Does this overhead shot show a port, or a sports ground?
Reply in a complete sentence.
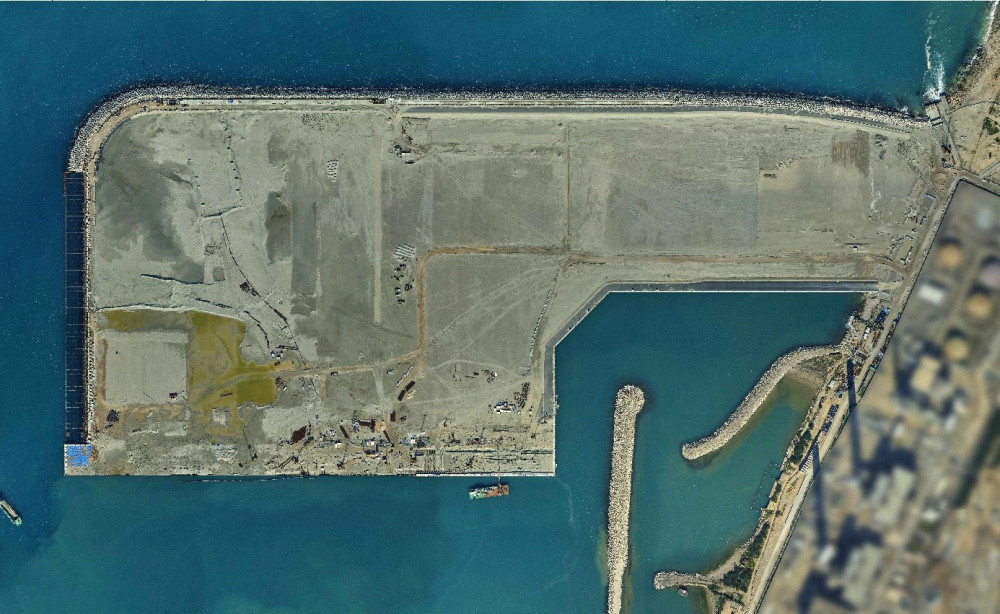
This image shows a port.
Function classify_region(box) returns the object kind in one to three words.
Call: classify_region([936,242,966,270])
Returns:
storage tank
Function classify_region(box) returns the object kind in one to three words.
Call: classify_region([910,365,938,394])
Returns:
building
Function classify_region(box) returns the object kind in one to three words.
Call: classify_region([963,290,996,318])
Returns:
storage tank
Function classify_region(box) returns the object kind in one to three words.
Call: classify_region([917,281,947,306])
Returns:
shed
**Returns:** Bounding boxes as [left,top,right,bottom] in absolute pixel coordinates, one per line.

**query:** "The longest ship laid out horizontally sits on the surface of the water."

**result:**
[469,483,509,500]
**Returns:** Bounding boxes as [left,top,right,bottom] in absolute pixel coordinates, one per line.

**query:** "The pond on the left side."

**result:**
[101,309,275,406]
